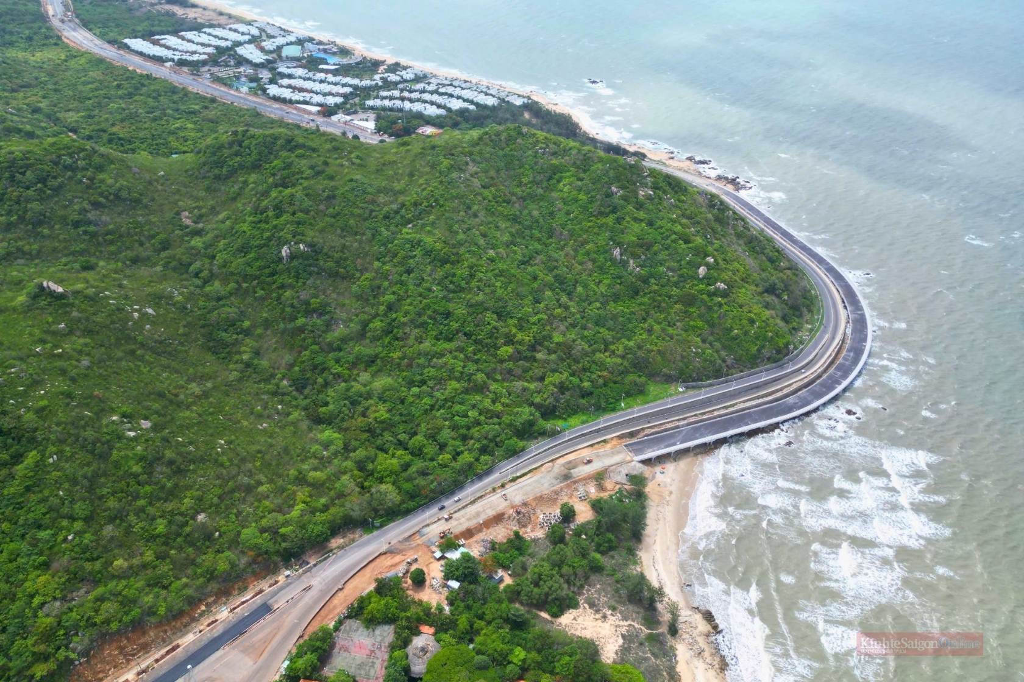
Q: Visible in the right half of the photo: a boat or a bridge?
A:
bridge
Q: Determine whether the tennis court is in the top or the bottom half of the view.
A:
bottom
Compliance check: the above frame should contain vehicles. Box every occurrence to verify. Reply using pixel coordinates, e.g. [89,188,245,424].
[583,456,593,463]
[443,513,453,520]
[501,491,508,499]
[452,496,461,502]
[511,501,521,517]
[437,503,447,510]
[438,525,457,539]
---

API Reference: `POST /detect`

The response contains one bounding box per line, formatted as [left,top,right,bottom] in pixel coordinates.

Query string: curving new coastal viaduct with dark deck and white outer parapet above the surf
[623,191,869,461]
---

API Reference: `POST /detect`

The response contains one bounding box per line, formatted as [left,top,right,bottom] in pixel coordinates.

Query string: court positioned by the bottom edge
[332,619,397,682]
